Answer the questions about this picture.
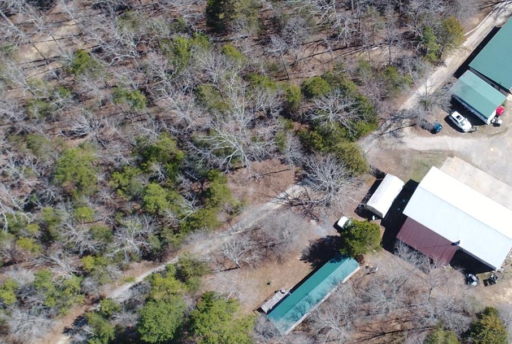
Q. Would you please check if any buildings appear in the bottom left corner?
No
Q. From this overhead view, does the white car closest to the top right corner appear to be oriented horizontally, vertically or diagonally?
diagonally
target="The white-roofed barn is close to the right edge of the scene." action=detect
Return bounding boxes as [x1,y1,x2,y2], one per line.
[402,166,512,275]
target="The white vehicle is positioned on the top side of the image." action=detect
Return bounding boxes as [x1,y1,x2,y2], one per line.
[450,110,474,131]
